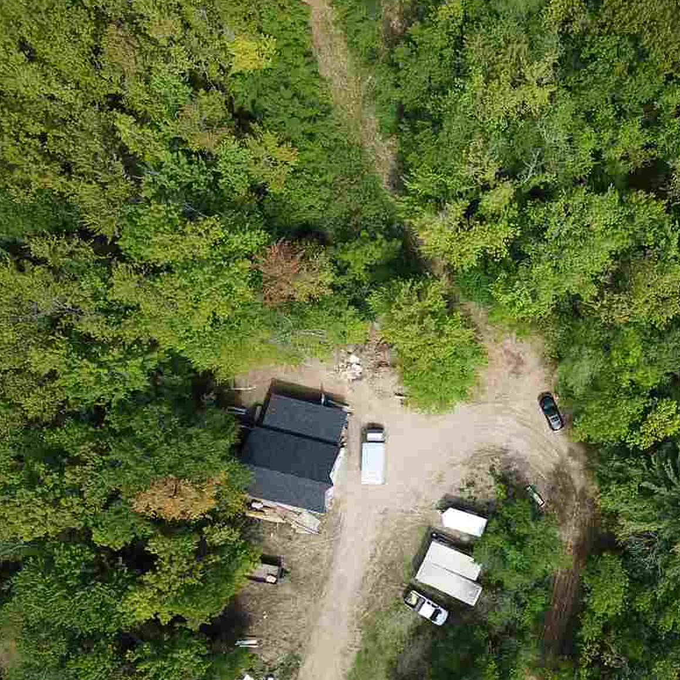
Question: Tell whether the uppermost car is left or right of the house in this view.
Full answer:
It is on the right side of the house that the uppermost car is positioned.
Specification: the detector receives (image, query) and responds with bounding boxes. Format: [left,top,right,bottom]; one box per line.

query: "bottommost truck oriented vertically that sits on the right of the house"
[362,426,388,485]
